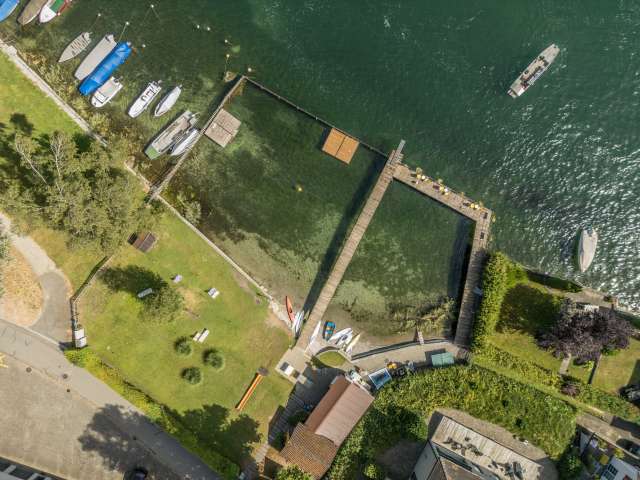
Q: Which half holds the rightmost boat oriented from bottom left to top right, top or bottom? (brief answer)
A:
top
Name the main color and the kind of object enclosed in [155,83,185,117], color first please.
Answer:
white boat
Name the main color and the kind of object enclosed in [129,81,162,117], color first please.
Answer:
white boat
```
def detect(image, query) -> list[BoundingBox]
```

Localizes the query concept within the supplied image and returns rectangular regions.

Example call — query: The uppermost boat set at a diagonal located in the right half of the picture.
[505,42,559,100]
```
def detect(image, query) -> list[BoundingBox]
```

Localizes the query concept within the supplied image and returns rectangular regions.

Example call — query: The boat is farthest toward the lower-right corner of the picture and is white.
[578,227,598,272]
